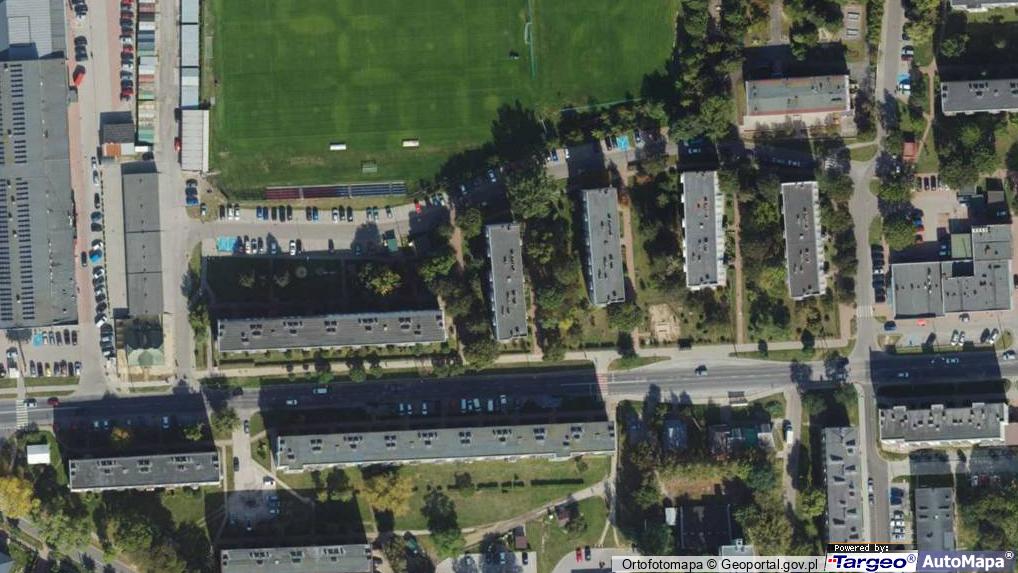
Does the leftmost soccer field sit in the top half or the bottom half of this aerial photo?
top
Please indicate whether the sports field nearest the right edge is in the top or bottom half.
top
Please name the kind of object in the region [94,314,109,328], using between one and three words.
vehicle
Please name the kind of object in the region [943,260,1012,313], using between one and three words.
building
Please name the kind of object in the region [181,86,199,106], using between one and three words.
shed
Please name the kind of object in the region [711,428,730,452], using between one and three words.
house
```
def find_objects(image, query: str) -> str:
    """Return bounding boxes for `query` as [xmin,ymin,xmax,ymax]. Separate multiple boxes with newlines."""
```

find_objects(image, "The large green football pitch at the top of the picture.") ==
[209,0,535,196]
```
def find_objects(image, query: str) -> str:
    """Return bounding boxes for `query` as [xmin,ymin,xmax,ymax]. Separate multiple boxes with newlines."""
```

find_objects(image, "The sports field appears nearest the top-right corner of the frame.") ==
[533,0,683,147]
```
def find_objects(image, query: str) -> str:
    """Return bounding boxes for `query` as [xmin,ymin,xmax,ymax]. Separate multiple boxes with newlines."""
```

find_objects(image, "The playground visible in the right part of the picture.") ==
[650,301,678,341]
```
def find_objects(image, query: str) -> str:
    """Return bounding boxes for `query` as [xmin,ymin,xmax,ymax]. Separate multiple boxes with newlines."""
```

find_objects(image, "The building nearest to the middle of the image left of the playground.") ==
[487,223,531,342]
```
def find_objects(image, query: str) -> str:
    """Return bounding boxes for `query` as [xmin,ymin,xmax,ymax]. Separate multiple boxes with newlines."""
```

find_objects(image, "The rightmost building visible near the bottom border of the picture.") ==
[912,488,953,573]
